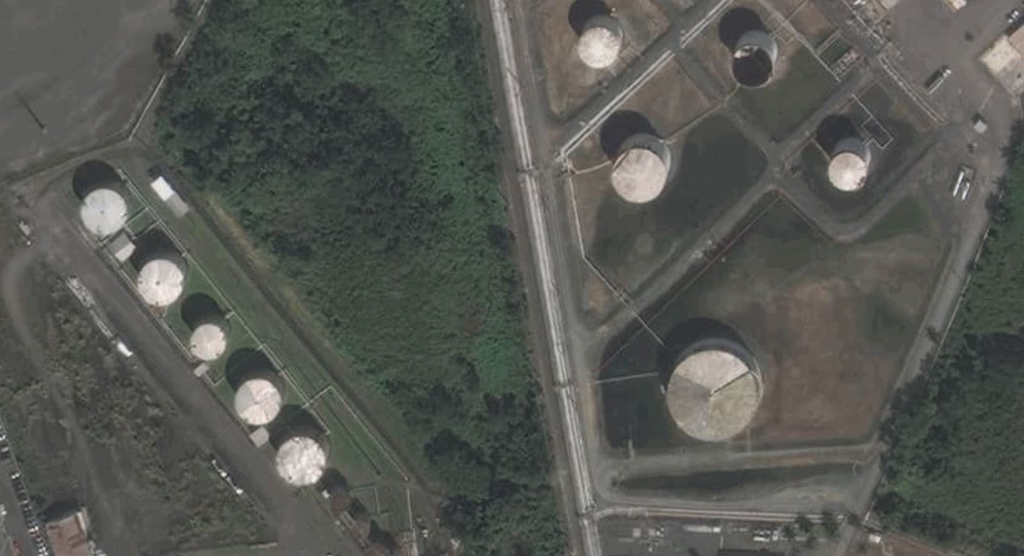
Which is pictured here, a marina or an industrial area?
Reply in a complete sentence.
This image shows an industrial area.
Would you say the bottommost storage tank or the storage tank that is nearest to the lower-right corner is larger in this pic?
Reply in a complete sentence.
The larger object is the storage tank that is nearest to the lower-right corner, with the bottommost storage tank being the smaller of the pair.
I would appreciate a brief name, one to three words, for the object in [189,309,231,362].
storage tank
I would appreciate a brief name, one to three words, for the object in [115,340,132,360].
vehicle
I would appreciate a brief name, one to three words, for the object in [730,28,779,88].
storage tank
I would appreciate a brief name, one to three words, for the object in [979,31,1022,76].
building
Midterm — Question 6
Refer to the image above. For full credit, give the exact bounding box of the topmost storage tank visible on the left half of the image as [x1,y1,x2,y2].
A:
[79,176,132,237]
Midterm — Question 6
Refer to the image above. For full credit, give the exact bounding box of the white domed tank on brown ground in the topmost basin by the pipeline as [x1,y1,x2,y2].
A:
[578,12,624,68]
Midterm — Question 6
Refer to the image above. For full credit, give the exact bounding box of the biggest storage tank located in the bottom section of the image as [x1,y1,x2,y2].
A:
[668,336,764,443]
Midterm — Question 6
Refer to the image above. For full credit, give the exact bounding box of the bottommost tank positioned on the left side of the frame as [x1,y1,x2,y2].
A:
[276,423,330,488]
